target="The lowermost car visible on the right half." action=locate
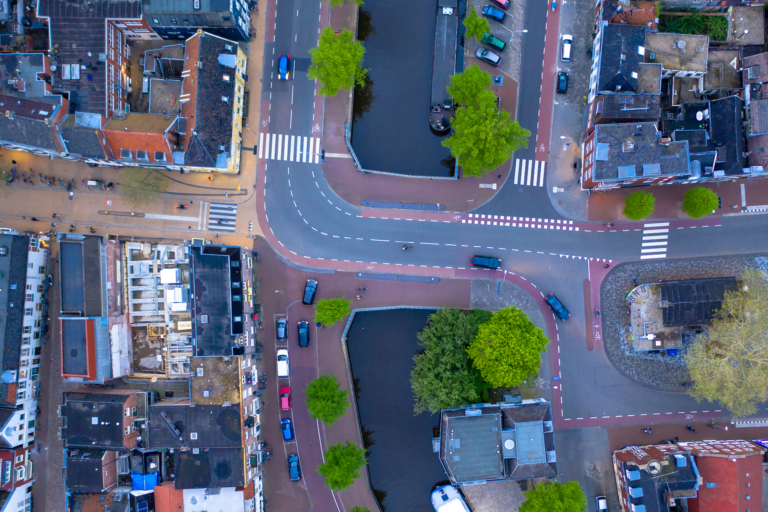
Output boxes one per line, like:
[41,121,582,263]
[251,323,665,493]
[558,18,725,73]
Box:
[595,495,609,512]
